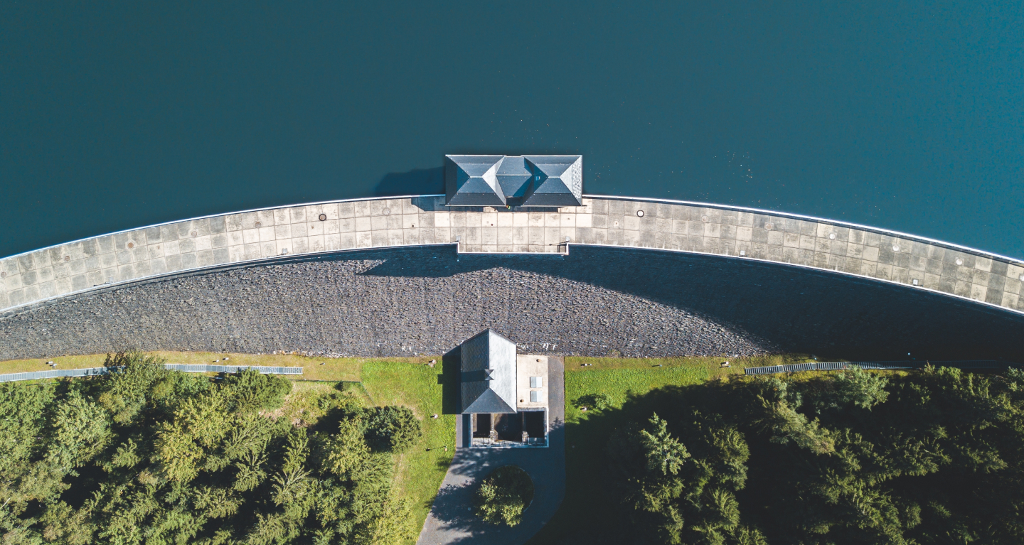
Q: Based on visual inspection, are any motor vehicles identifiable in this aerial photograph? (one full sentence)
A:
No, there appears to be no motor vehicle in this shot.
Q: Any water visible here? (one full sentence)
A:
Yes, water shows up in the scene.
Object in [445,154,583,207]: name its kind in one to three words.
building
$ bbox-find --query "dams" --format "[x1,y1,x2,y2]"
[0,193,1024,369]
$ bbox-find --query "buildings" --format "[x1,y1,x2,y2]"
[460,327,548,414]
[445,154,583,207]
